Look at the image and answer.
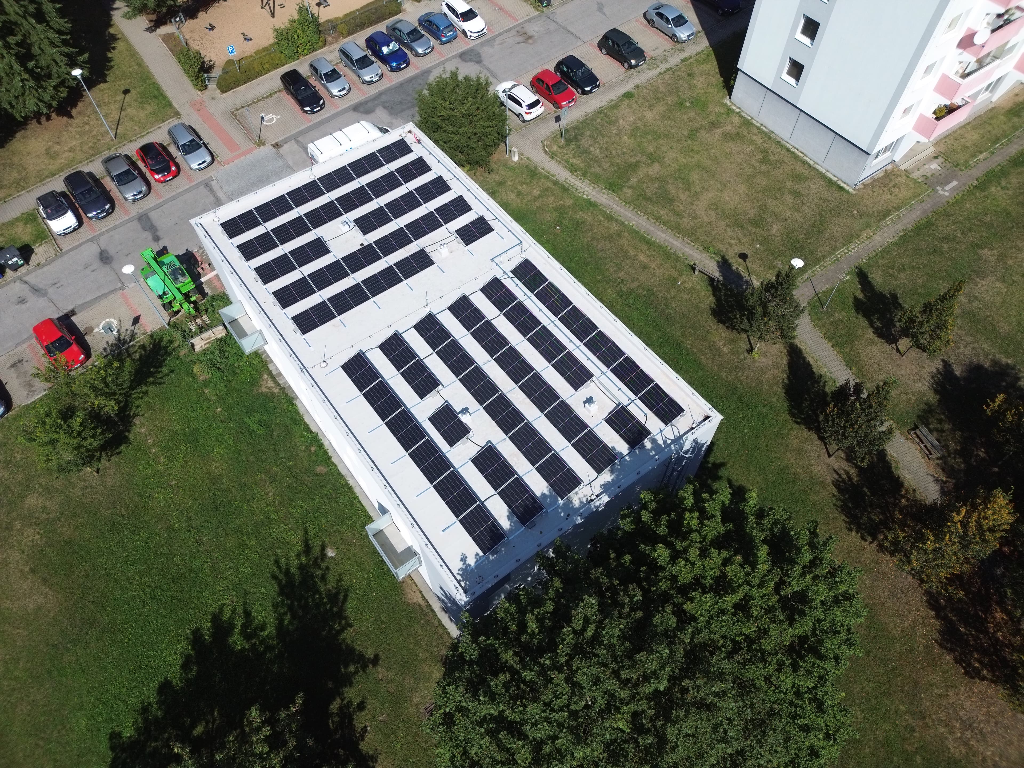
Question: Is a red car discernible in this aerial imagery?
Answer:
Yes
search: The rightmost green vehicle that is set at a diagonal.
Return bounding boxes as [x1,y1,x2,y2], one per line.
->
[139,247,211,337]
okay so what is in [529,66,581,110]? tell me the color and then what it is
red car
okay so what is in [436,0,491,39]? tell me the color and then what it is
white car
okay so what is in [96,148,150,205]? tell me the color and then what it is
gray car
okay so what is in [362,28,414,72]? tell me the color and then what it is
blue car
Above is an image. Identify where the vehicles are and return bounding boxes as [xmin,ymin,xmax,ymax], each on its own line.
[644,2,700,43]
[24,308,89,372]
[333,38,386,85]
[130,138,180,186]
[598,28,651,70]
[139,247,211,337]
[162,120,214,172]
[436,0,491,39]
[274,66,328,114]
[492,77,548,122]
[60,165,114,224]
[529,66,581,110]
[96,148,150,205]
[553,53,605,95]
[415,10,461,46]
[33,186,82,238]
[362,28,414,72]
[387,16,438,57]
[311,118,392,165]
[304,54,354,99]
